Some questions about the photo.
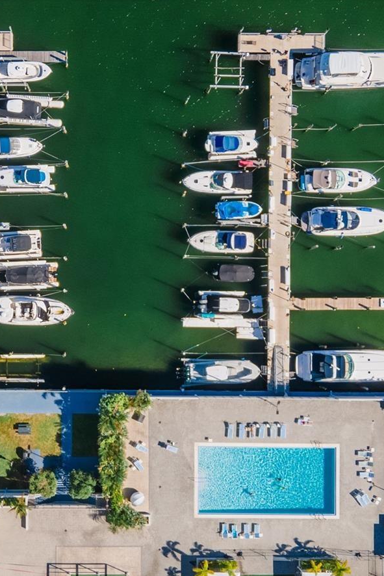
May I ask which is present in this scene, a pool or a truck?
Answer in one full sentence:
I can see a pool in this picture.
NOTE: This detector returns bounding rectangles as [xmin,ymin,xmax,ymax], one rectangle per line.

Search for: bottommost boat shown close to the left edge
[0,296,76,326]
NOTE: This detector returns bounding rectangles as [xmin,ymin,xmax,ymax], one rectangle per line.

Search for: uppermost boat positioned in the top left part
[0,62,52,83]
